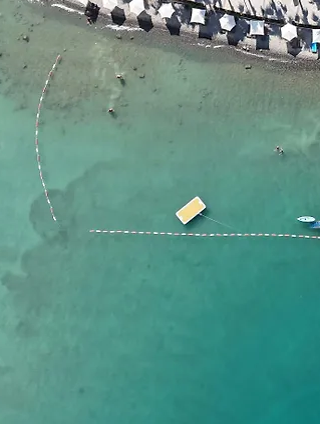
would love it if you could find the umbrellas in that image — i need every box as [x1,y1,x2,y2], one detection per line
[103,0,118,10]
[250,20,264,35]
[190,8,206,23]
[280,23,296,40]
[129,0,145,16]
[219,13,235,31]
[312,29,320,43]
[159,2,175,18]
